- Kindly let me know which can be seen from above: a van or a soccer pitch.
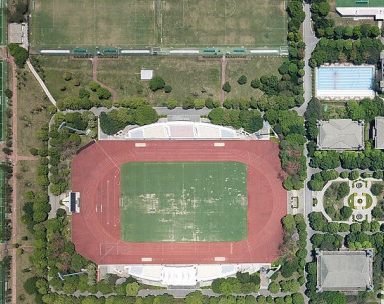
soccer pitch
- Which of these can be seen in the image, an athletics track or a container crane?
athletics track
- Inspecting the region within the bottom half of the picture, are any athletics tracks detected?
Yes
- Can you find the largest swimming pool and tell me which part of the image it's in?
top right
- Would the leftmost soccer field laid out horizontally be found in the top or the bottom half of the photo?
top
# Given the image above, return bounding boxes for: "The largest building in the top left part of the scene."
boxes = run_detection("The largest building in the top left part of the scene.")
[9,23,30,47]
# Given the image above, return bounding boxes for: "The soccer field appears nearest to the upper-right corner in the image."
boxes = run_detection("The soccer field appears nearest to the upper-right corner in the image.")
[156,0,288,48]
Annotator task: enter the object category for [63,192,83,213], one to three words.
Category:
building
